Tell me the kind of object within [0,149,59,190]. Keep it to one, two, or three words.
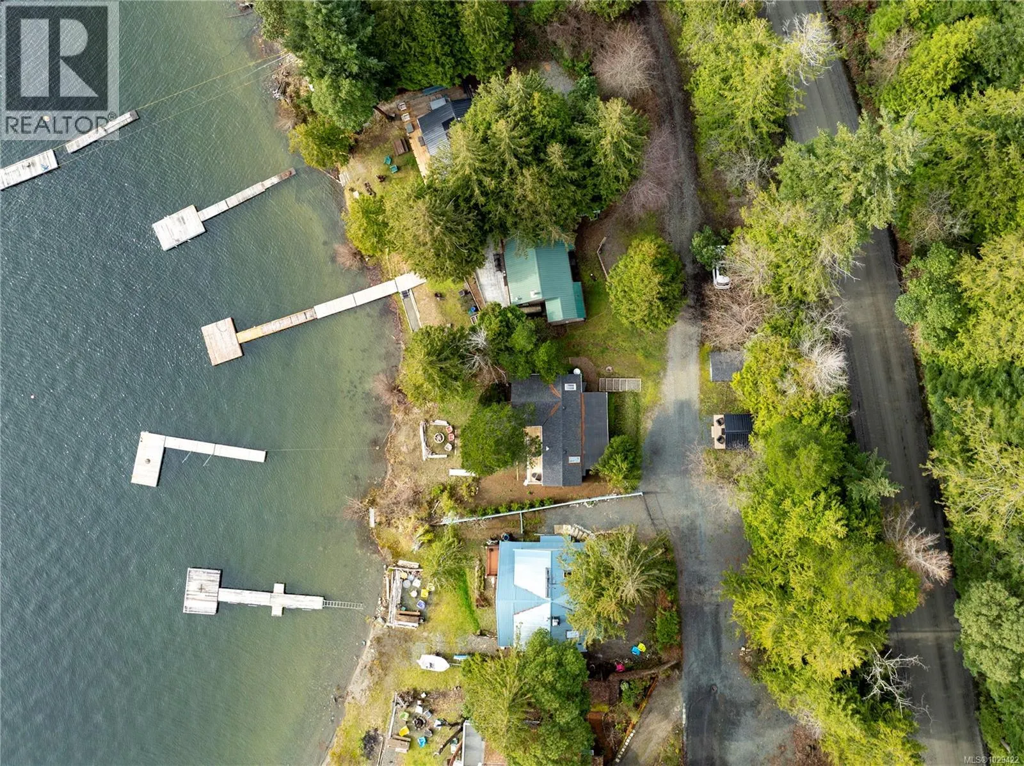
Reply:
pier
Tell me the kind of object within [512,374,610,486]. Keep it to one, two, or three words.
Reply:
house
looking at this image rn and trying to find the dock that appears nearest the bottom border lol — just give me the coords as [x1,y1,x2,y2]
[184,568,324,617]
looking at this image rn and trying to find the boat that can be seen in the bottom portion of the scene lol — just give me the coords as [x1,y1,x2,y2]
[414,655,459,674]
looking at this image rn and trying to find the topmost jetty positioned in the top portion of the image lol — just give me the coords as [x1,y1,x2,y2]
[66,110,140,153]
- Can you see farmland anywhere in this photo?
No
